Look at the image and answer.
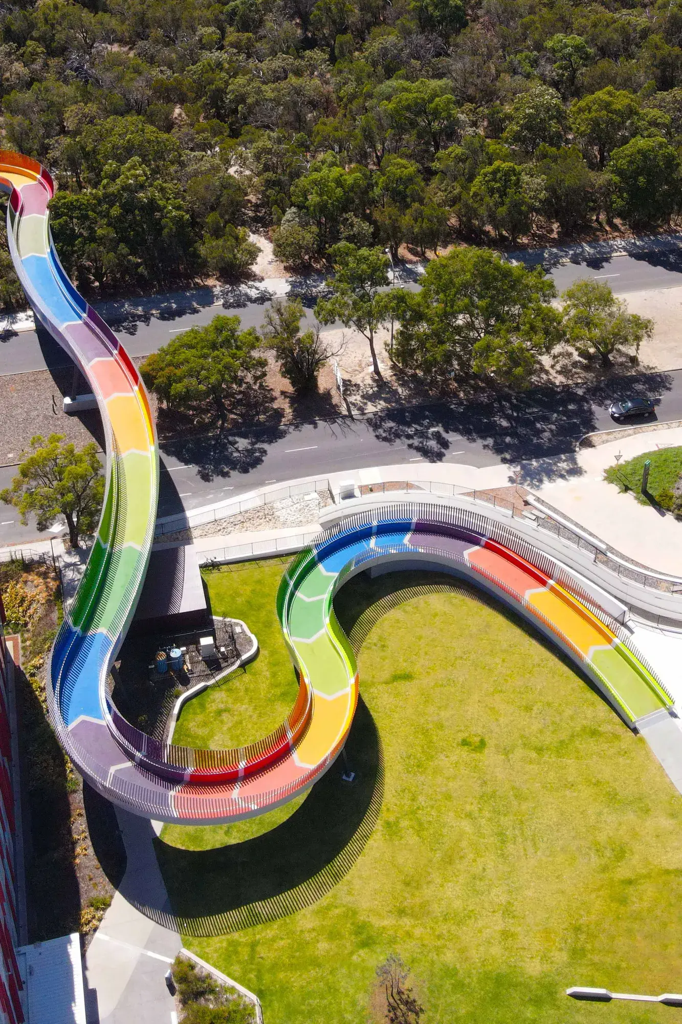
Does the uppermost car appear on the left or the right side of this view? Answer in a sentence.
It is on the right.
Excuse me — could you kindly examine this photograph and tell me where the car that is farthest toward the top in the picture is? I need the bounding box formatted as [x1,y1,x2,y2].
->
[610,401,656,423]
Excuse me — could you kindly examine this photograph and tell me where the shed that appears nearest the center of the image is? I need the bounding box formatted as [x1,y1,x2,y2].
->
[125,545,206,643]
